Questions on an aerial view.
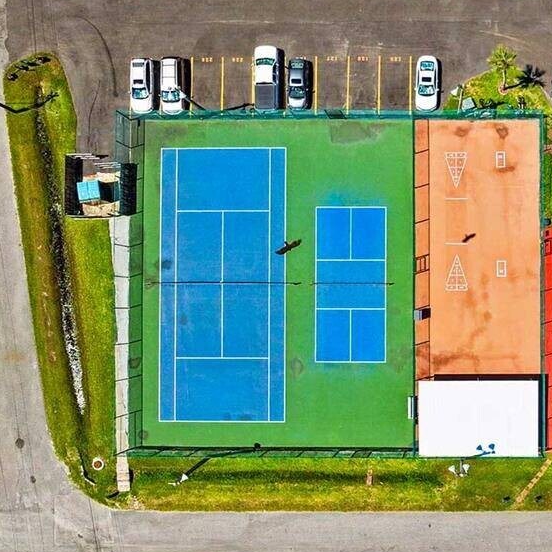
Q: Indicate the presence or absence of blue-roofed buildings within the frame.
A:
No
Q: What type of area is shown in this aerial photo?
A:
sports ground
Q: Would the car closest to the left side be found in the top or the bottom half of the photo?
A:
top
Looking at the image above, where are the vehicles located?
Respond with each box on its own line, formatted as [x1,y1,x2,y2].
[128,57,159,111]
[414,57,441,111]
[286,58,313,111]
[159,57,189,118]
[253,46,283,111]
